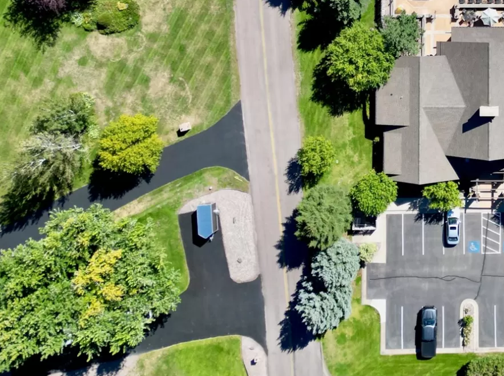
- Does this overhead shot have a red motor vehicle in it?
No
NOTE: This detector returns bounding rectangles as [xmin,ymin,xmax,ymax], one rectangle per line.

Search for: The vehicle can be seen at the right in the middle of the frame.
[445,207,462,244]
